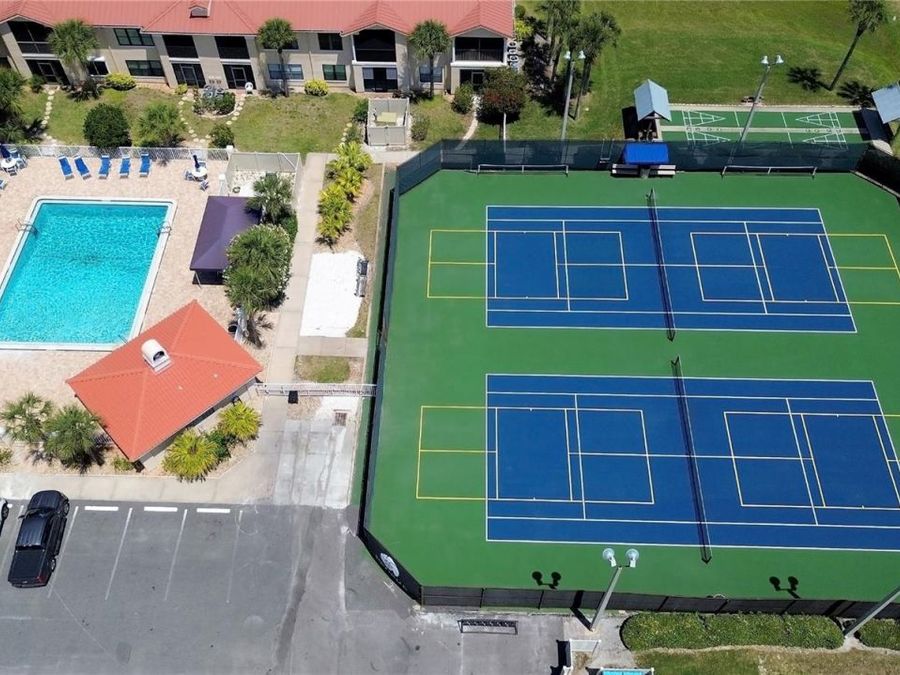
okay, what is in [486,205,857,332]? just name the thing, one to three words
tennis court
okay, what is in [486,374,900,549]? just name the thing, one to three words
tennis court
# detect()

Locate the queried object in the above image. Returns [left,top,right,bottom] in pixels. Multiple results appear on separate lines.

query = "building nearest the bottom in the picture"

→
[67,299,263,468]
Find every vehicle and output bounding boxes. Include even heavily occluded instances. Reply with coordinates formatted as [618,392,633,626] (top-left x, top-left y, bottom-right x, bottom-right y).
[0,495,8,520]
[6,488,70,588]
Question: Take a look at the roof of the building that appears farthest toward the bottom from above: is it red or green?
red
